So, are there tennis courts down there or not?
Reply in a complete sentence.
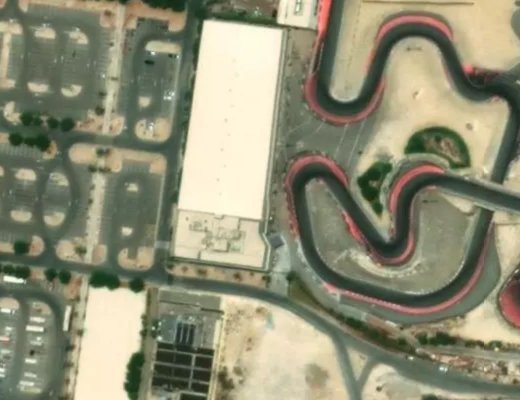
No, this view has no tennis court in it.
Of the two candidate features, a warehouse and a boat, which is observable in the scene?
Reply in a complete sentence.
Looking from above, you can make out a warehouse.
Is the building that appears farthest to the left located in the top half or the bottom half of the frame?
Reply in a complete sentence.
You can find the building that appears farthest to the left in the bottom half.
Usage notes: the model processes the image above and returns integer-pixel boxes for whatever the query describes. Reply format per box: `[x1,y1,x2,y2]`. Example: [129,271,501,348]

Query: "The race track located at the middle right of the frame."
[287,0,520,327]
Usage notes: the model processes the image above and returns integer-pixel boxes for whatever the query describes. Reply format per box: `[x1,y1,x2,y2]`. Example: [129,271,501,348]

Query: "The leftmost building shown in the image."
[75,288,148,400]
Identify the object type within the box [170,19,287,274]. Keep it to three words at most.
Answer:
warehouse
